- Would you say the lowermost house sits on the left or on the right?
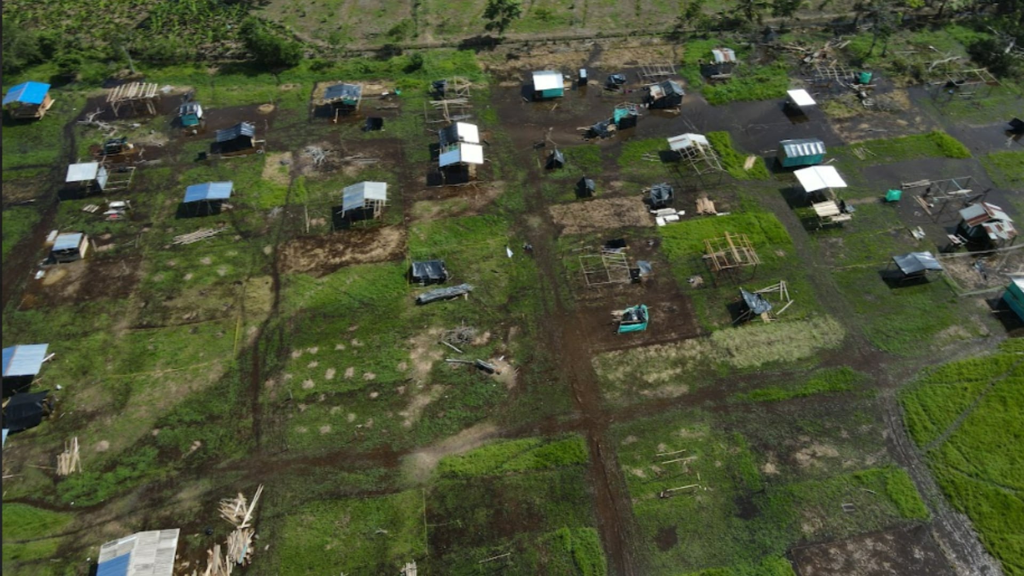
left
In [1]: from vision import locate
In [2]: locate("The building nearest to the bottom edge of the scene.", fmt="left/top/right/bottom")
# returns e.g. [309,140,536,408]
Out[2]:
[97,531,179,576]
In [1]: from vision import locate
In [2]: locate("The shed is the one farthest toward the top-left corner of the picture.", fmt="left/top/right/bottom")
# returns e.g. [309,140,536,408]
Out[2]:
[3,81,56,118]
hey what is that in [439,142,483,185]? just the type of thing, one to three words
house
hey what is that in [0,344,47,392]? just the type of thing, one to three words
house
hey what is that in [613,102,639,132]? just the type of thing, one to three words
shed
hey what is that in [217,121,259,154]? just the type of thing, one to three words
shed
